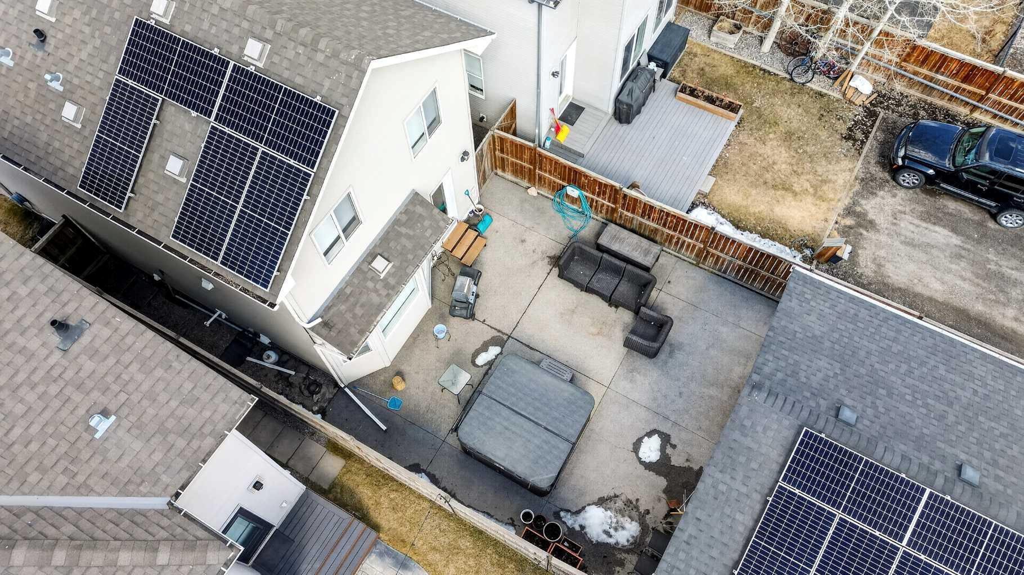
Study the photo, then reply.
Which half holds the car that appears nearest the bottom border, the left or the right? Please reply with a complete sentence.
The car that appears nearest the bottom border appears in the right half of the scene.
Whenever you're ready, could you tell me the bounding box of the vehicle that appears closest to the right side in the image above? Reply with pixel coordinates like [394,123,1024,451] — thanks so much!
[884,112,1024,228]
